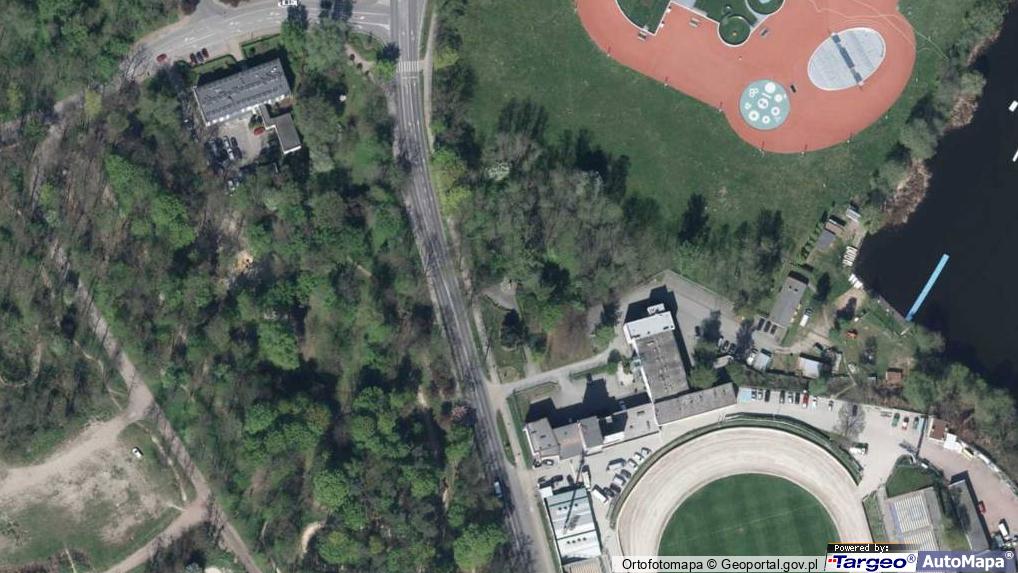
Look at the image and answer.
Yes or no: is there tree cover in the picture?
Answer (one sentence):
Yes, tree cover shows up in the scene.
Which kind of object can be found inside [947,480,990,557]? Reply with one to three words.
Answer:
building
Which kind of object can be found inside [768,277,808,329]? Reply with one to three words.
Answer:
building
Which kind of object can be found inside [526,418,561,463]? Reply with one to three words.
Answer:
house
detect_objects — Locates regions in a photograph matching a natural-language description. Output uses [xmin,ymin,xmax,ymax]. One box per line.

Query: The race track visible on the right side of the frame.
[617,426,883,573]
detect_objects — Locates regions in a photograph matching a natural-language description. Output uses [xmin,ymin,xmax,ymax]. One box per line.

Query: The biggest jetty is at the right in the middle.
[907,254,945,319]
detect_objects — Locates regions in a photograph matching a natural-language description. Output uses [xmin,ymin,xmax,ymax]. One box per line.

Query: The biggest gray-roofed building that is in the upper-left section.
[195,58,290,124]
